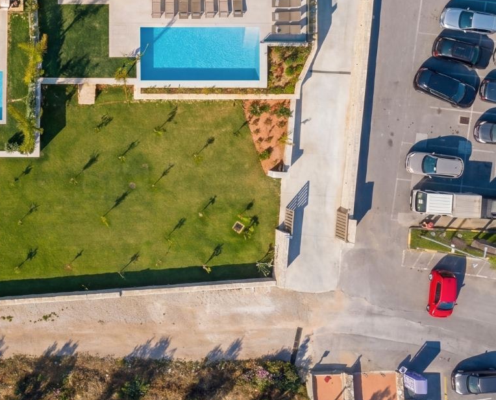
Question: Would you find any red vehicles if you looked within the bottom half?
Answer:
Yes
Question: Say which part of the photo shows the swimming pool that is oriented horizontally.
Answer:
top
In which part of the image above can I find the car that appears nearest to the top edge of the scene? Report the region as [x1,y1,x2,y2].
[435,7,496,38]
